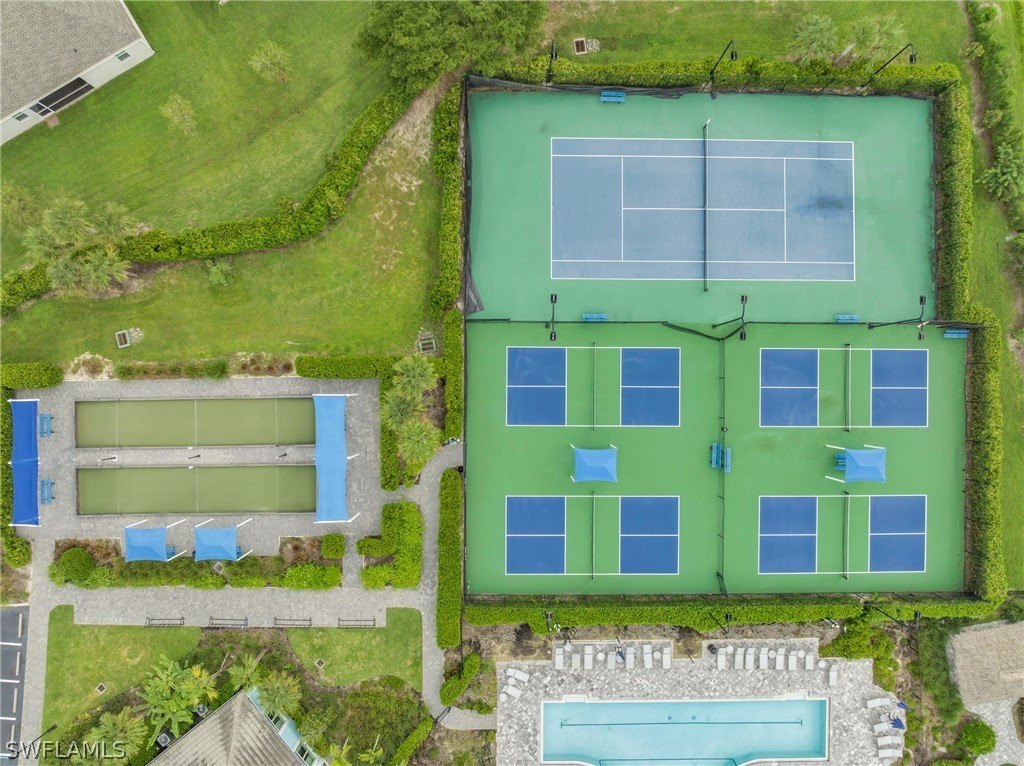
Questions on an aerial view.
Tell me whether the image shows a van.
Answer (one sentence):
No, I can see no van in this picture.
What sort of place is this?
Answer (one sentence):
This image shows a sports ground.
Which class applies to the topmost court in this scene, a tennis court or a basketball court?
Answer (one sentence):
Specifically, the topmost court is a tennis court.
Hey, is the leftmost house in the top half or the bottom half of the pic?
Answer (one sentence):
The leftmost house is in the top half of the image.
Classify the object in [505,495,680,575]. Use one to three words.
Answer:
sports court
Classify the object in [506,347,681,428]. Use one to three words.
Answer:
sports court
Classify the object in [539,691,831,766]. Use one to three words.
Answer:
swimming pool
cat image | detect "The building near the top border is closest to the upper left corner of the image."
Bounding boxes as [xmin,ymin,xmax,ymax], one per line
[0,0,154,143]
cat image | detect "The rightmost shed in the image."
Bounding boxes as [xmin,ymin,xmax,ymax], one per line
[943,616,1024,710]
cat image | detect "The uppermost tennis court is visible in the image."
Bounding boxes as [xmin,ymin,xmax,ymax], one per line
[466,88,937,323]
